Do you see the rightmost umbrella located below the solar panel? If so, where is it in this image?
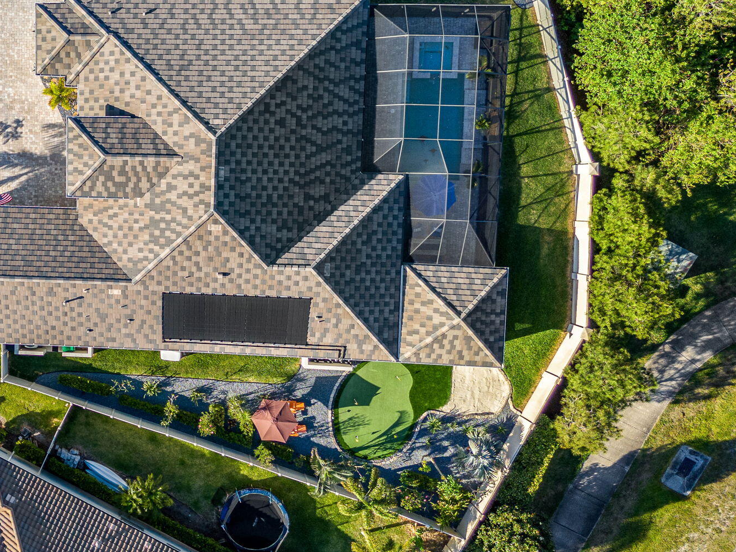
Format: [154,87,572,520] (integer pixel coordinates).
[251,397,297,440]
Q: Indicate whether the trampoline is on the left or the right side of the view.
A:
left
